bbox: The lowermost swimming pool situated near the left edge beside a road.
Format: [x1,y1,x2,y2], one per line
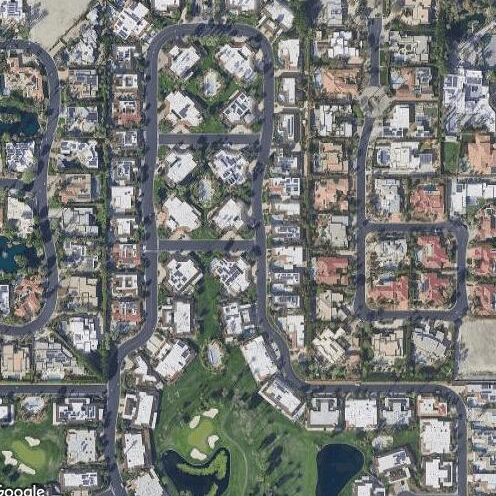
[21,393,47,416]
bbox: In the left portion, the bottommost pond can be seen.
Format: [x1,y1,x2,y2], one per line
[160,447,230,496]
